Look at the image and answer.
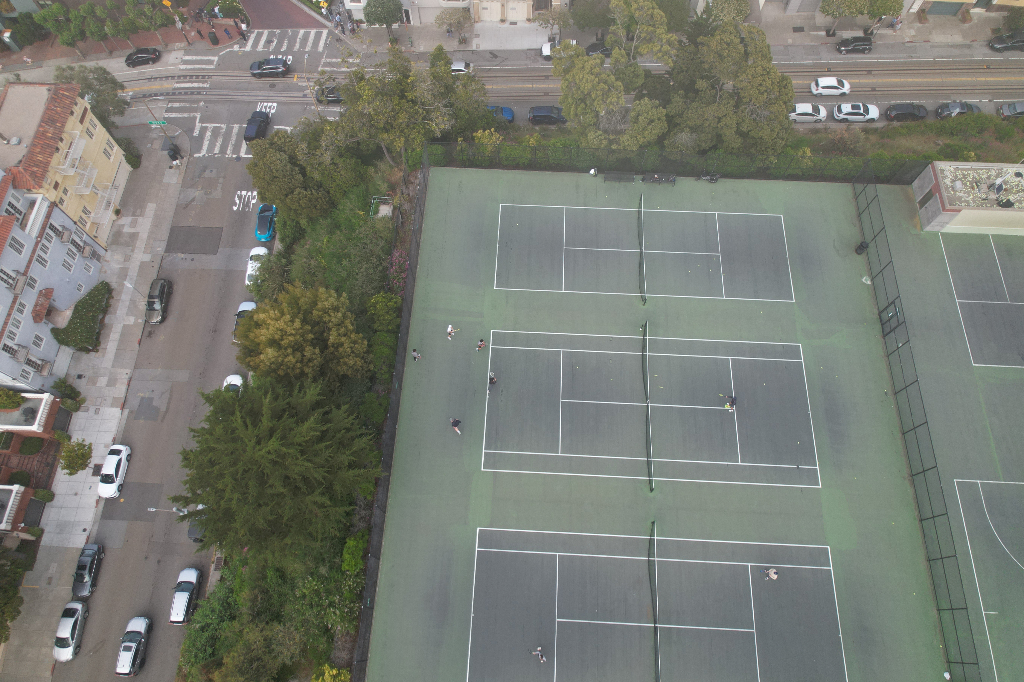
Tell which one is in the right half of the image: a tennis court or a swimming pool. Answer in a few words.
tennis court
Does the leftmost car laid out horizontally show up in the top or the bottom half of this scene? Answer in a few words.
top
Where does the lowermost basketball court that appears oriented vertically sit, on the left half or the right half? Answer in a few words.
right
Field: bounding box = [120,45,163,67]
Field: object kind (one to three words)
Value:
car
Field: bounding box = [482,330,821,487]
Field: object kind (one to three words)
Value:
tennis court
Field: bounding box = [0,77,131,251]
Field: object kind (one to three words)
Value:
house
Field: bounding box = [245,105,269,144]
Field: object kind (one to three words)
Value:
vehicle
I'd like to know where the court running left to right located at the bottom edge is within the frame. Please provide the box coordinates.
[467,528,848,682]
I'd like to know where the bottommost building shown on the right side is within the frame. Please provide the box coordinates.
[911,161,1024,236]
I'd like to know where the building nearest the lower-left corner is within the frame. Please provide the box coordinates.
[0,486,32,535]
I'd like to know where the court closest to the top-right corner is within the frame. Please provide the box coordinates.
[940,233,1024,369]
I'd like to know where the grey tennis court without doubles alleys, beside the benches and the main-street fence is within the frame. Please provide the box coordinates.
[494,203,795,302]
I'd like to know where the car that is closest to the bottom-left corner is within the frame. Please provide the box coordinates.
[52,603,89,663]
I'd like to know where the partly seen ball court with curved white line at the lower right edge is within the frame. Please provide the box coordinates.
[955,476,1024,682]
